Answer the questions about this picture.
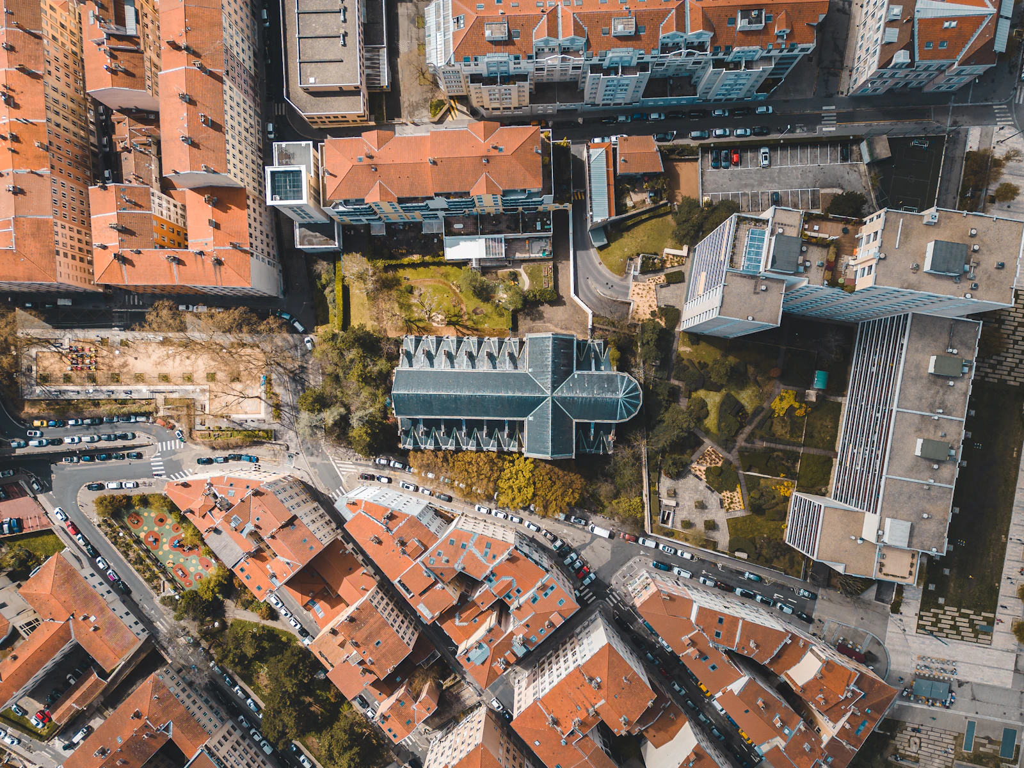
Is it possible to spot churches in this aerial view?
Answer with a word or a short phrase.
Yes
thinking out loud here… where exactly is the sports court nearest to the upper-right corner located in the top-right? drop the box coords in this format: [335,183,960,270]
[867,136,946,214]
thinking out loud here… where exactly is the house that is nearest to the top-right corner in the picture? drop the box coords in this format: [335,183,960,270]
[848,0,1016,95]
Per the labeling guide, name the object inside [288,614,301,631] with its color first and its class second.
white vehicle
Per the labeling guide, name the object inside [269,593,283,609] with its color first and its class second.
white car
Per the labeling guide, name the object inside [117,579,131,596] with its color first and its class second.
black car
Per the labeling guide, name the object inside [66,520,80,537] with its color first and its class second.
red car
